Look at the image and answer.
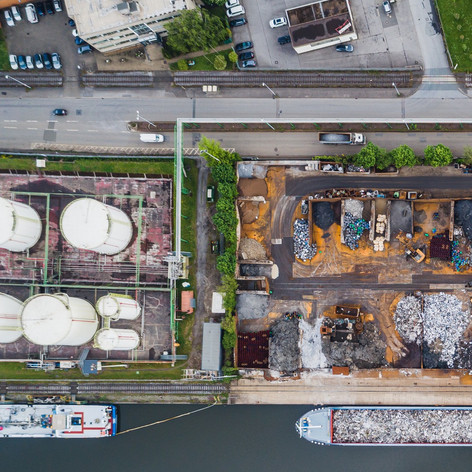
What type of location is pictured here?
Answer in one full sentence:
The picture captures an industrial area.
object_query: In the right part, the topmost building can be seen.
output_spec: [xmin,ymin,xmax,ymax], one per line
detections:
[285,0,357,53]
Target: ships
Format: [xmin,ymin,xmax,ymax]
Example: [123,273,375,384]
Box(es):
[296,406,472,446]
[0,405,121,438]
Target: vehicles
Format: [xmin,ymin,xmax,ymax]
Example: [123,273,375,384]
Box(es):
[11,4,22,22]
[74,36,88,45]
[236,40,253,51]
[230,17,247,27]
[383,0,391,15]
[43,52,53,69]
[18,54,28,70]
[317,132,366,144]
[45,0,56,16]
[36,1,47,16]
[239,51,254,61]
[462,281,472,288]
[224,0,240,7]
[65,18,75,27]
[139,133,162,141]
[4,10,16,27]
[276,34,291,45]
[77,45,94,54]
[241,60,256,67]
[9,54,19,69]
[69,28,79,36]
[394,230,426,265]
[52,52,62,69]
[51,107,68,116]
[269,17,286,28]
[53,0,63,12]
[23,0,37,23]
[24,54,35,70]
[227,5,243,16]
